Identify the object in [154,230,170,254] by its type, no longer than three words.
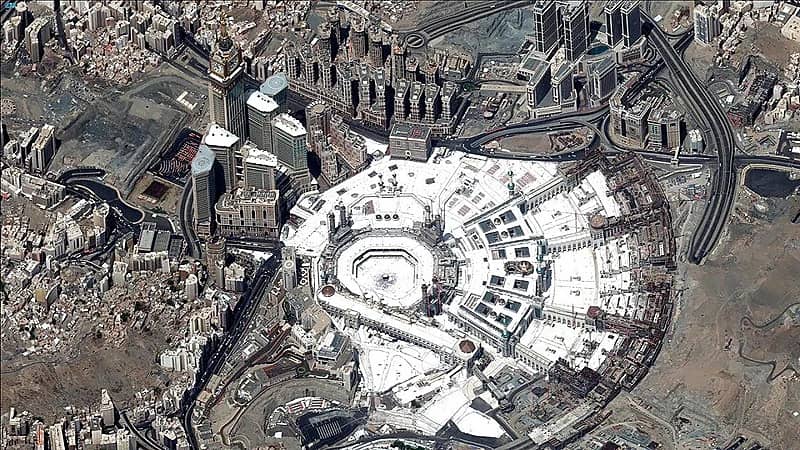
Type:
shed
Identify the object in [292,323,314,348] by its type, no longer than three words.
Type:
building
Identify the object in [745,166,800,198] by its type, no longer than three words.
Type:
pond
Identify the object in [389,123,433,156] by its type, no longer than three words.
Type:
building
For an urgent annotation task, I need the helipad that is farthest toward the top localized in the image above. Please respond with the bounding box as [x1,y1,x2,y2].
[267,76,283,89]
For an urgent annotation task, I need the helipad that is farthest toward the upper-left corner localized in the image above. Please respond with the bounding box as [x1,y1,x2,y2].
[195,154,212,168]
